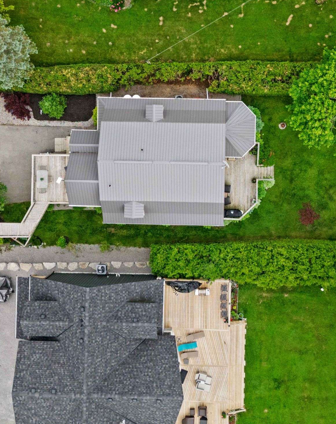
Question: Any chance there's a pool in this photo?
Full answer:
No, the photo shows no pool.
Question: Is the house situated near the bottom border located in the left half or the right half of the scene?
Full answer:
The house situated near the bottom border appears in the left half of the scene.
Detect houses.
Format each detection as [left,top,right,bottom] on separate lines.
[12,271,183,424]
[64,96,257,227]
